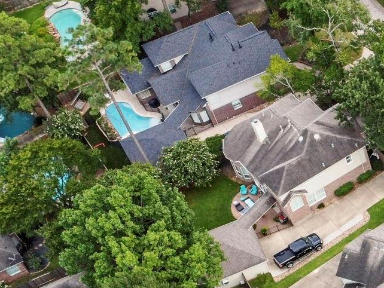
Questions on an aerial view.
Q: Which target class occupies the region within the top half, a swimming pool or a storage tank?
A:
swimming pool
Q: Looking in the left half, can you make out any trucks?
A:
No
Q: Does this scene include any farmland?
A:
No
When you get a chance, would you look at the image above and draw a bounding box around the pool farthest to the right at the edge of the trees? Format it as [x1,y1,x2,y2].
[102,100,165,139]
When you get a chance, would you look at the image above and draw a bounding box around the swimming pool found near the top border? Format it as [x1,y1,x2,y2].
[47,6,86,61]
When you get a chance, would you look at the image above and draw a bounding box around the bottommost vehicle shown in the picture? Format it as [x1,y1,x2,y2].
[268,233,328,269]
